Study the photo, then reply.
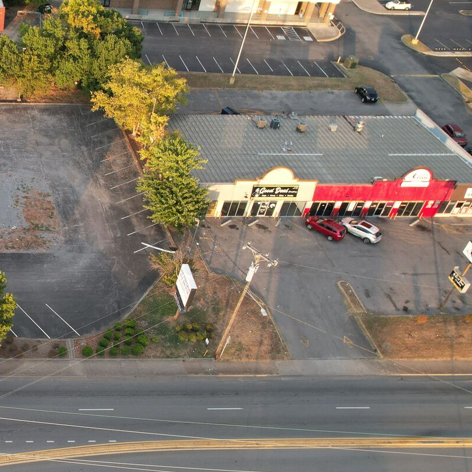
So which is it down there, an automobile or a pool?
automobile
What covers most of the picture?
paved ground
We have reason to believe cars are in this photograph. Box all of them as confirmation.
[442,121,469,142]
[344,215,387,242]
[353,82,380,100]
[308,214,352,239]
[386,1,412,10]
